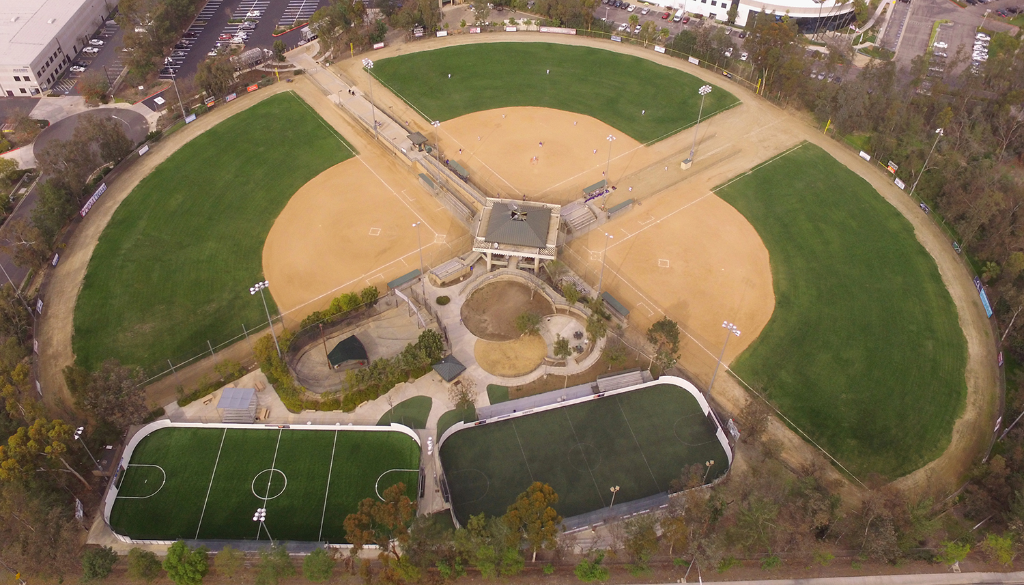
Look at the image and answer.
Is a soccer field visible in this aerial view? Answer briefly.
Yes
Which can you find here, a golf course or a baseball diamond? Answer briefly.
baseball diamond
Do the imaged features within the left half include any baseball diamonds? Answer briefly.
Yes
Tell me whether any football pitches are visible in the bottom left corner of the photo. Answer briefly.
Yes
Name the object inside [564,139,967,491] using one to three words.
baseball field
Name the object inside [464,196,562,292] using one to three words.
building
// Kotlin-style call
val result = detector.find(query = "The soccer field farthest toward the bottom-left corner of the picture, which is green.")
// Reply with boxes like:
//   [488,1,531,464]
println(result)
[109,430,421,542]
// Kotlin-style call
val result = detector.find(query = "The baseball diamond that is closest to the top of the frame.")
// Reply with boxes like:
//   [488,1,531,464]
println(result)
[365,42,741,204]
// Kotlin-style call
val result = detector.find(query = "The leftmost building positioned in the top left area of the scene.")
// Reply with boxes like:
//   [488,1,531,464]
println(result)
[0,0,122,97]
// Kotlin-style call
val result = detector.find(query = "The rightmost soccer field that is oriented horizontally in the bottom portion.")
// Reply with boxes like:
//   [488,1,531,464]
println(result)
[440,384,731,539]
